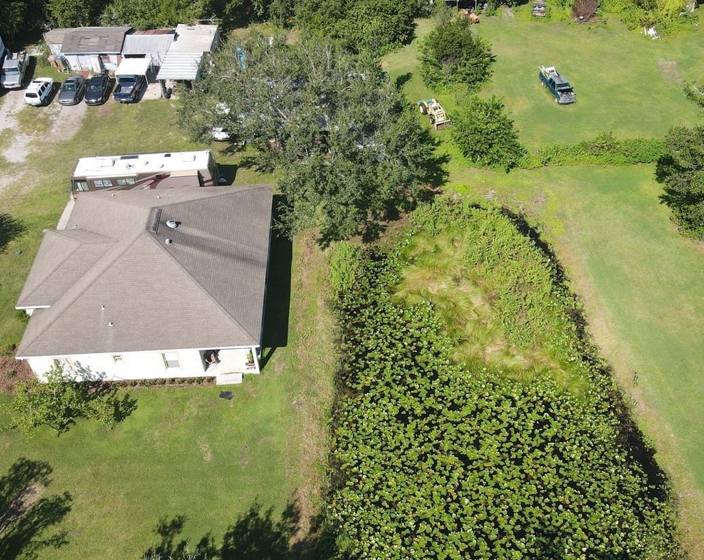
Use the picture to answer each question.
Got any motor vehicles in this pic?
Yes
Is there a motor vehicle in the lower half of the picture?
No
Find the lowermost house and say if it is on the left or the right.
left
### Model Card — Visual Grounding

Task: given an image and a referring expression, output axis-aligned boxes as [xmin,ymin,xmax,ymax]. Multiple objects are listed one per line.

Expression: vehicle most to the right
[537,64,579,102]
